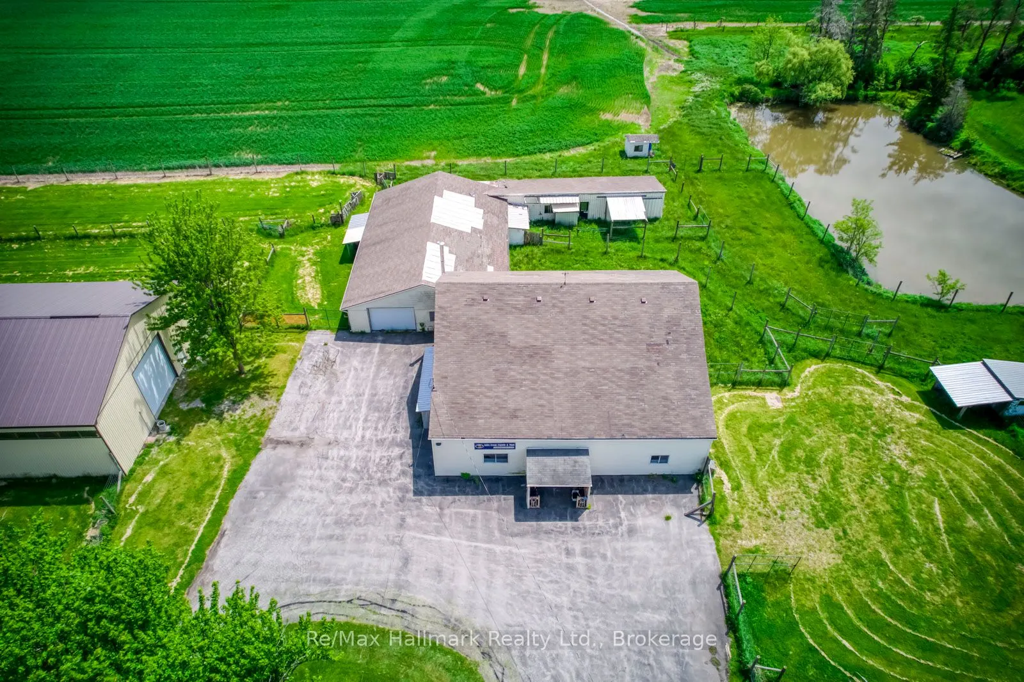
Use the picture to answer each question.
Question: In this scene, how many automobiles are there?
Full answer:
Not a single automobile can be seen.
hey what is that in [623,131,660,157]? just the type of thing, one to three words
shed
